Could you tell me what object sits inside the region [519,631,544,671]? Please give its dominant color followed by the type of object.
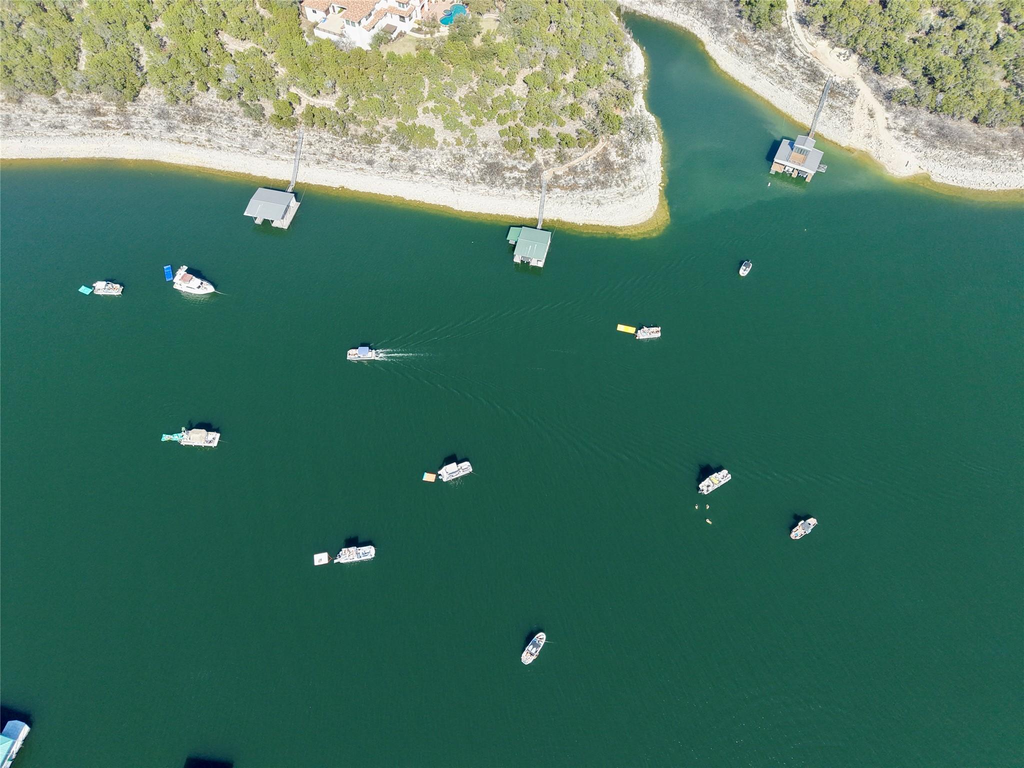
white boat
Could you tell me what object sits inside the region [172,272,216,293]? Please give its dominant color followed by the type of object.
white boat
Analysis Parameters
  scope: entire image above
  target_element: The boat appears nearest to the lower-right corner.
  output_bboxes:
[786,518,817,542]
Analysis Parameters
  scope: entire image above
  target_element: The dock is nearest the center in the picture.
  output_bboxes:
[507,227,551,268]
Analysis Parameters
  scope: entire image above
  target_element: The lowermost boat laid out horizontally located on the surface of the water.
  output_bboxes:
[335,544,376,562]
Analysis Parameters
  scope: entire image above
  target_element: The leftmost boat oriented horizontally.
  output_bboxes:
[90,280,124,295]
